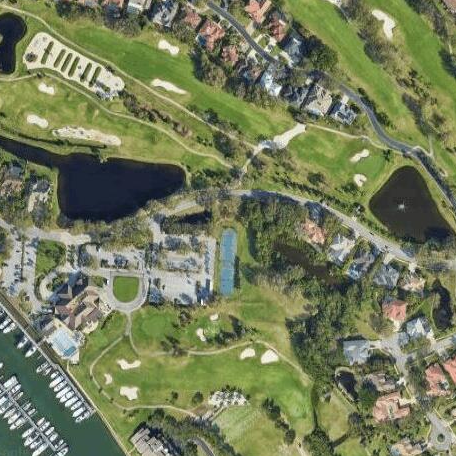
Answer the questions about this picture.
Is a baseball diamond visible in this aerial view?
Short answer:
No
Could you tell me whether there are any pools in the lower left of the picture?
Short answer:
Yes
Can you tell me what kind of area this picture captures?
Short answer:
golf course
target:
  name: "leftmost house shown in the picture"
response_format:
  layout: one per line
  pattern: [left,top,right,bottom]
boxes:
[0,155,22,203]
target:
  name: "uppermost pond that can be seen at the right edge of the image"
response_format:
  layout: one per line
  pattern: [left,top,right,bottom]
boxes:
[369,166,454,243]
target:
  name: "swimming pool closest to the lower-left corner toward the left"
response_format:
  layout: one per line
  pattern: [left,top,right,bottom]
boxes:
[47,326,83,360]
